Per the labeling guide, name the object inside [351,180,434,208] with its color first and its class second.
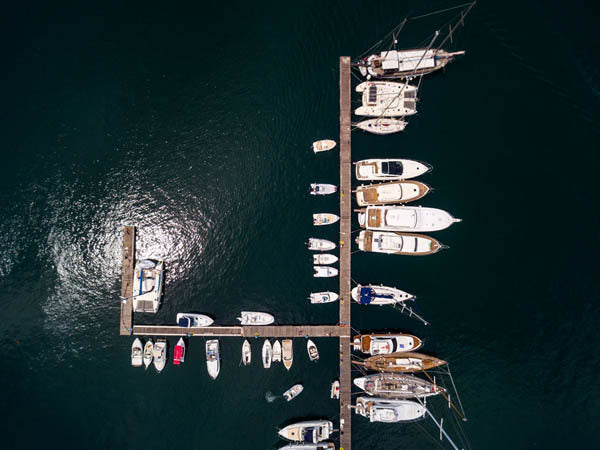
white boat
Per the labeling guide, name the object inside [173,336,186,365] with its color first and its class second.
red boat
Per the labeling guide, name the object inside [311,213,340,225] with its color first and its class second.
white boat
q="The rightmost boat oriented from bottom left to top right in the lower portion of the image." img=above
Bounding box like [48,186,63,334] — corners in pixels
[282,384,304,403]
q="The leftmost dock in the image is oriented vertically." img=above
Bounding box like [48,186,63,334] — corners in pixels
[120,226,137,335]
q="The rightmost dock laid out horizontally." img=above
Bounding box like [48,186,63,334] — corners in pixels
[242,324,340,337]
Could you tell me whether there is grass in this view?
No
